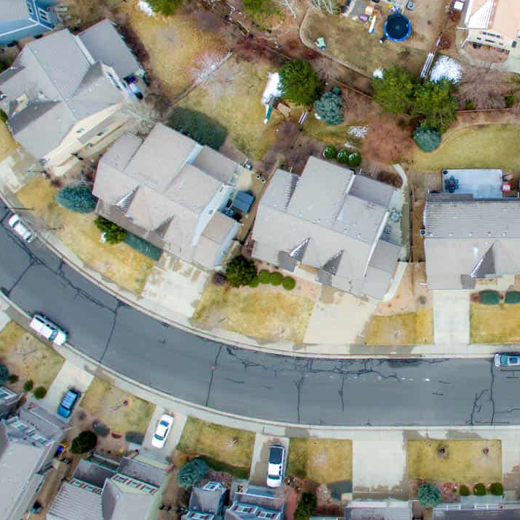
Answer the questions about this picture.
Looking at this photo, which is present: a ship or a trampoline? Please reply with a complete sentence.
This aerial view contains a trampoline.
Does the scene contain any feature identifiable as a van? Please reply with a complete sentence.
Yes, there's a van down there.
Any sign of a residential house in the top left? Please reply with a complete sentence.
Yes, you'll find a residential house in the top left.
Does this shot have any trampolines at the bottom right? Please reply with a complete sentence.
No, I see no trampoline at the bottom right.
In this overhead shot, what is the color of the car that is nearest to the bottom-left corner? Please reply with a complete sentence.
From above, the car that is nearest to the bottom-left corner appears blue.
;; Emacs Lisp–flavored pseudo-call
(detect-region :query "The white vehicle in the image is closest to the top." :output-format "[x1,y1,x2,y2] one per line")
[8,214,37,243]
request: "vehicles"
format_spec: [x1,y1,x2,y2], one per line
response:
[495,353,520,368]
[152,415,173,448]
[266,446,283,486]
[8,214,37,243]
[58,387,81,418]
[30,314,66,343]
